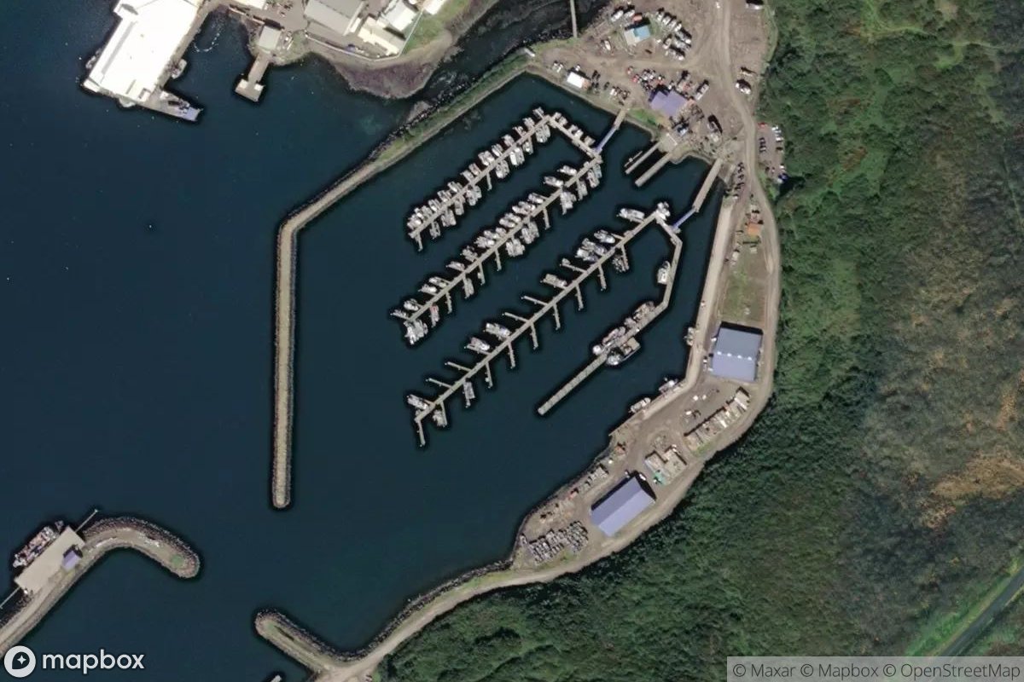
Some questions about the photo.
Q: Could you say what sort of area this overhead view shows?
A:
port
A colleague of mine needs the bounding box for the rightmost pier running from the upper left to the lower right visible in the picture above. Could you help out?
[547,115,600,160]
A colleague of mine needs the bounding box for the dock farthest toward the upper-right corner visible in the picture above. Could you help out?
[692,156,728,210]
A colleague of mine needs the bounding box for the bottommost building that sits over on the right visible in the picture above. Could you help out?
[592,477,655,538]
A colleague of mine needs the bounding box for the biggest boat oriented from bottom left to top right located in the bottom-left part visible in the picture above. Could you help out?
[19,526,57,565]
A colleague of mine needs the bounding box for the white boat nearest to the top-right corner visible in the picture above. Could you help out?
[732,79,749,94]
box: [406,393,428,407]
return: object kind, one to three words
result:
boat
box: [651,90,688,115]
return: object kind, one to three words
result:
building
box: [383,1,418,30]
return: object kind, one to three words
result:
building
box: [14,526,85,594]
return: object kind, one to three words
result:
pier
